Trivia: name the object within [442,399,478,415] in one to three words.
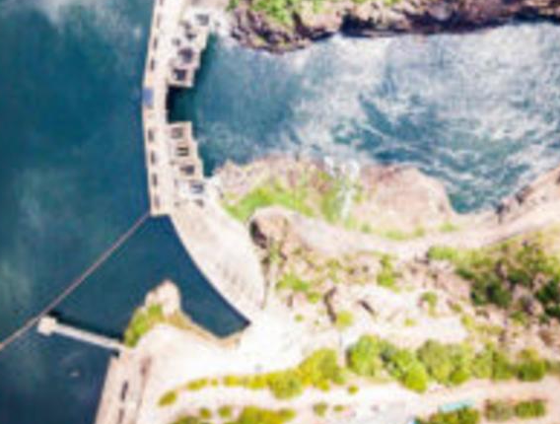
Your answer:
shed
